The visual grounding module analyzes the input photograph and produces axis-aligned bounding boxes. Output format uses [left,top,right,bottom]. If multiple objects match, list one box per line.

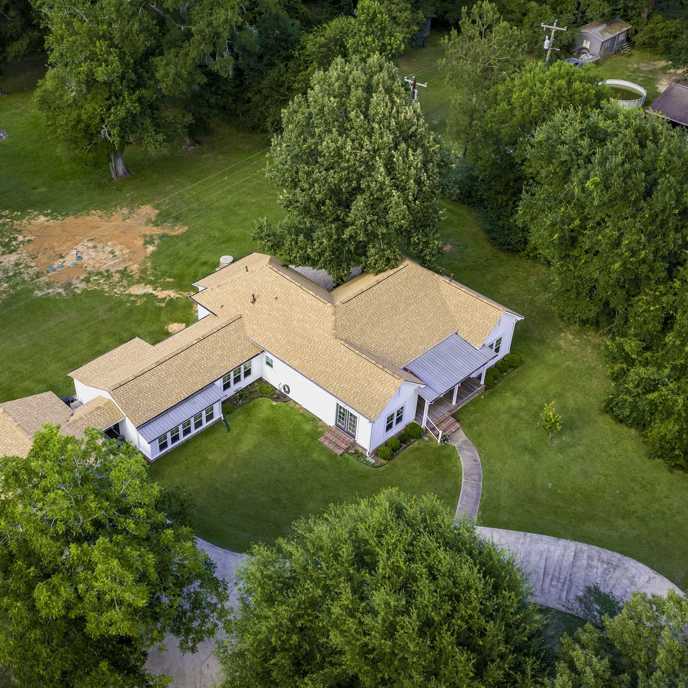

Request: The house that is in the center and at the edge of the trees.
[65,251,524,457]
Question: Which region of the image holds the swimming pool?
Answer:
top right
